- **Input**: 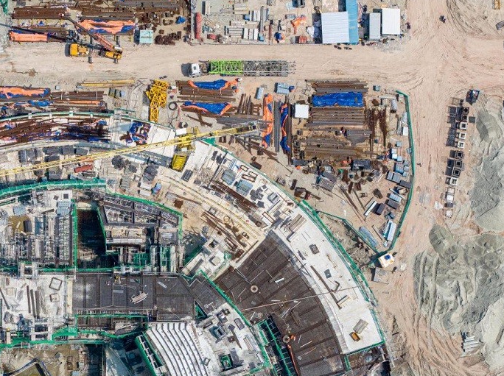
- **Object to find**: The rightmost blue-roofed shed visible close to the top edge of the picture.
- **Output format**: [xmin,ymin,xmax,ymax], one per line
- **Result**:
[344,0,358,46]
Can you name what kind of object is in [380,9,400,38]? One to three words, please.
building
